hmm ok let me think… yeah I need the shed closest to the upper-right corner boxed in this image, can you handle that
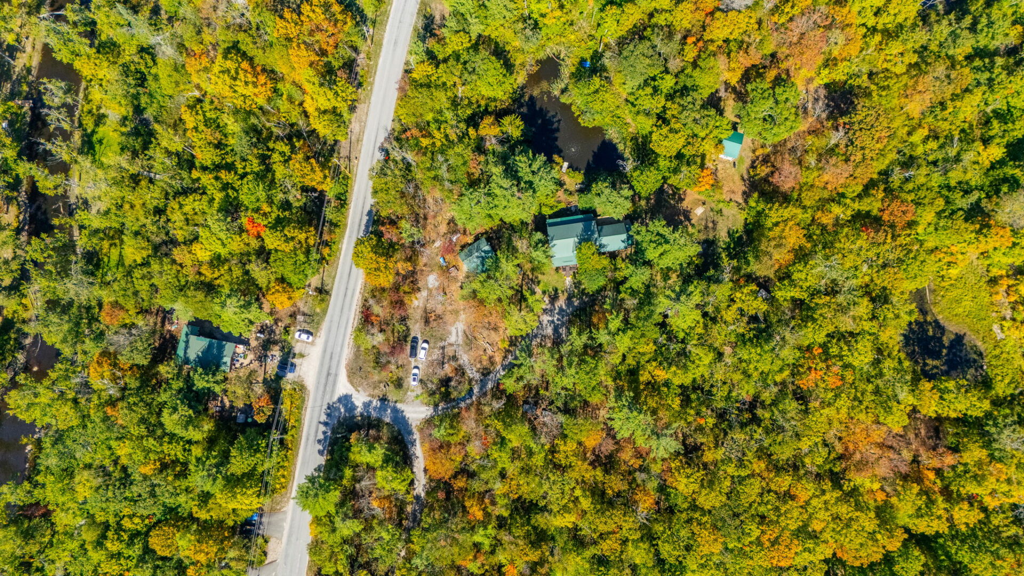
[714,130,743,163]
